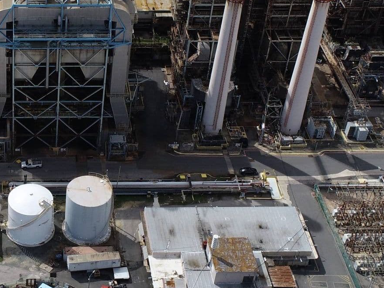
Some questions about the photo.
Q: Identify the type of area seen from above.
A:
industrial area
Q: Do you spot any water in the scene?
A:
No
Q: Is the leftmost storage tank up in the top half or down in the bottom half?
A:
bottom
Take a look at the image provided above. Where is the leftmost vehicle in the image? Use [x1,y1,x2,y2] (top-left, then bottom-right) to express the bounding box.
[21,158,45,170]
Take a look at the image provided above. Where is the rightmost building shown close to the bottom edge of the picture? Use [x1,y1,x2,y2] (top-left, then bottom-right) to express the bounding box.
[146,207,322,288]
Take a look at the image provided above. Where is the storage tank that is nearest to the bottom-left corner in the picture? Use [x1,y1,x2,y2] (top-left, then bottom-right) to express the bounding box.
[4,185,55,246]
